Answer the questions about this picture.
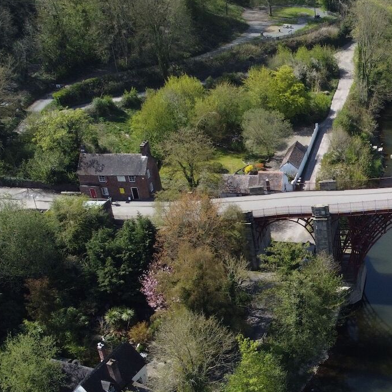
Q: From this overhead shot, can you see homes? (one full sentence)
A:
Yes, I can see a home in this picture.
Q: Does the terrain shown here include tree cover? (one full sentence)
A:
Yes, some tree cover is visible.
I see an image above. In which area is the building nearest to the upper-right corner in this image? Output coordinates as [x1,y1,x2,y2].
[281,137,312,186]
